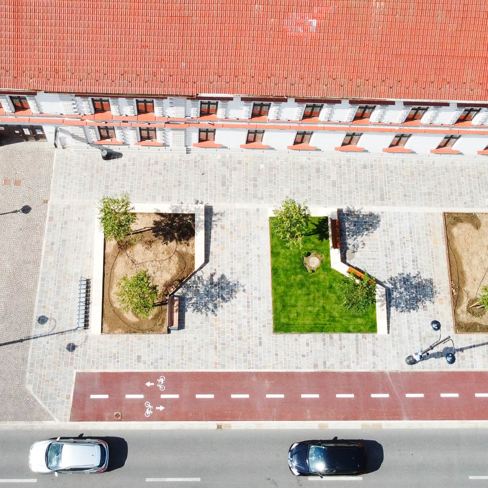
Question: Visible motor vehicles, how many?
2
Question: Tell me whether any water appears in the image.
No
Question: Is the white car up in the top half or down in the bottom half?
bottom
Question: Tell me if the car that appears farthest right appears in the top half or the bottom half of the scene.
bottom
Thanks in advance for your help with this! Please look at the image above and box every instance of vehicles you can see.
[285,437,366,480]
[28,434,108,479]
